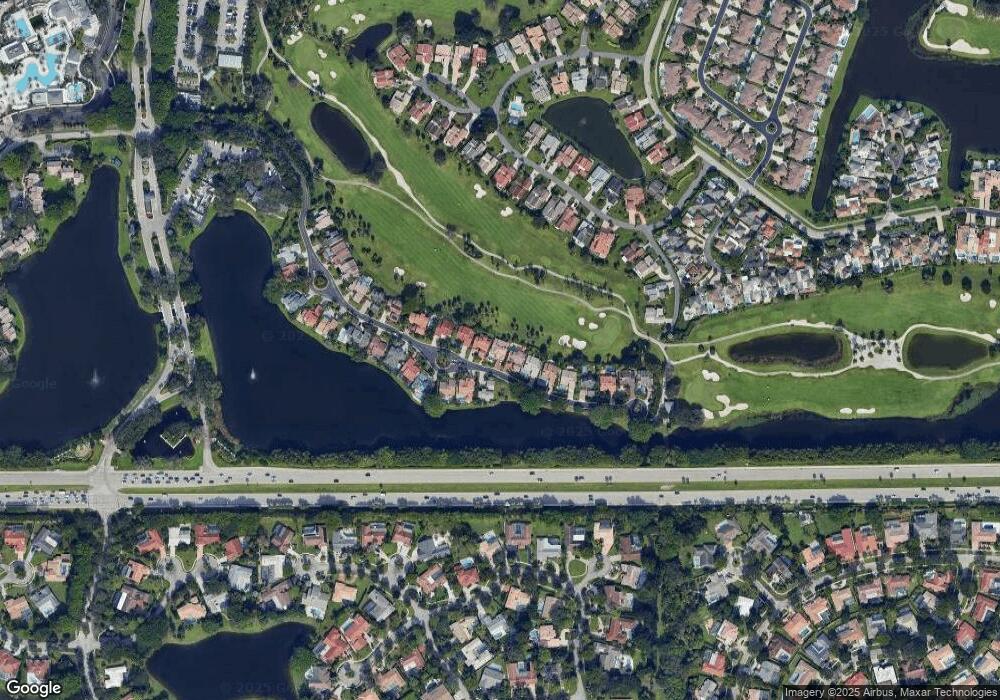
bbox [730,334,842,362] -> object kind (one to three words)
pond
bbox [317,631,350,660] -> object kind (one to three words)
house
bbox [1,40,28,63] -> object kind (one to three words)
building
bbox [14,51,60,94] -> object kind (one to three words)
swimming pool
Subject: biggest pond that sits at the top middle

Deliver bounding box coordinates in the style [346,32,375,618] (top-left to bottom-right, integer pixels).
[543,97,645,182]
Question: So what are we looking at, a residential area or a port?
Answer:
residential area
